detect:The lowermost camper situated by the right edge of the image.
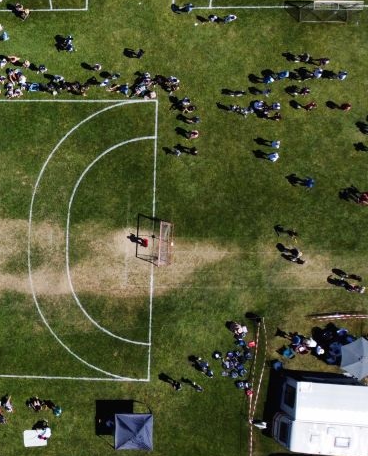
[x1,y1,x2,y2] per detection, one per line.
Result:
[251,411,368,456]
